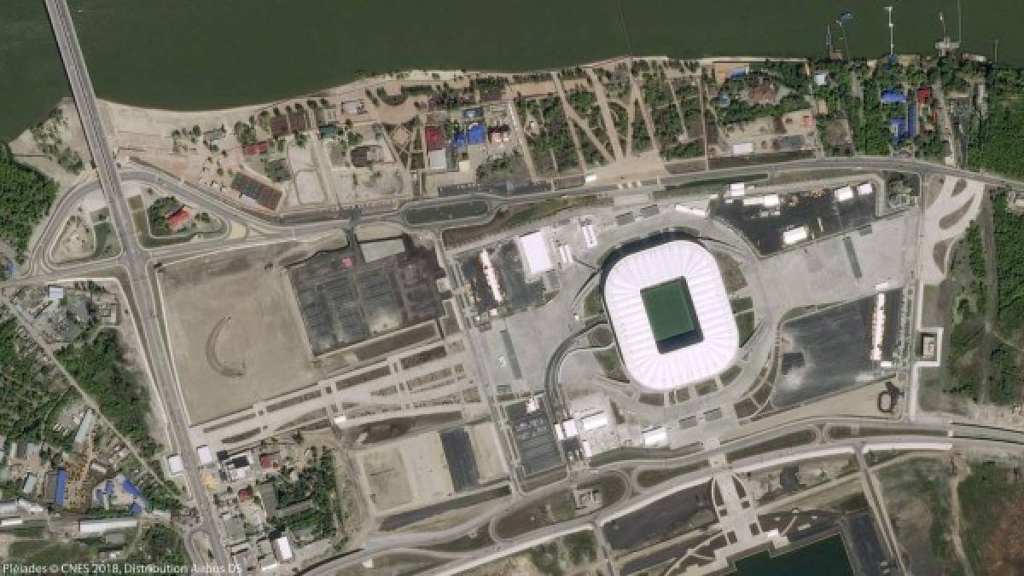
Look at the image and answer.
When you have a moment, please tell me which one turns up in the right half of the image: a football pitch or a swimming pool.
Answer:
football pitch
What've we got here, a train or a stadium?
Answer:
stadium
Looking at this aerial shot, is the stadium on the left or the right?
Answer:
right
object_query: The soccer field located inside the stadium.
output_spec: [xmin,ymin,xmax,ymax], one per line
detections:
[645,282,699,349]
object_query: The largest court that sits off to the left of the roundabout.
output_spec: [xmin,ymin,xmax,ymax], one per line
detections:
[296,171,326,204]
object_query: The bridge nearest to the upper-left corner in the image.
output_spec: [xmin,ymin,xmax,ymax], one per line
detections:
[45,0,138,245]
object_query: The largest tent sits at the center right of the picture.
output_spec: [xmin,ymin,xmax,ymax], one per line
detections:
[782,225,809,245]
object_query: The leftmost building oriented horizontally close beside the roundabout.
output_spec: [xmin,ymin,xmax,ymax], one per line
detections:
[360,238,405,262]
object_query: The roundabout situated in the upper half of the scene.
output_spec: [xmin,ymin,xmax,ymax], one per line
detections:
[402,193,496,230]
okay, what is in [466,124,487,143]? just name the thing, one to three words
building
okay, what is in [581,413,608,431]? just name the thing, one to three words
building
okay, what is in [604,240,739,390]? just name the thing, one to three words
stadium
